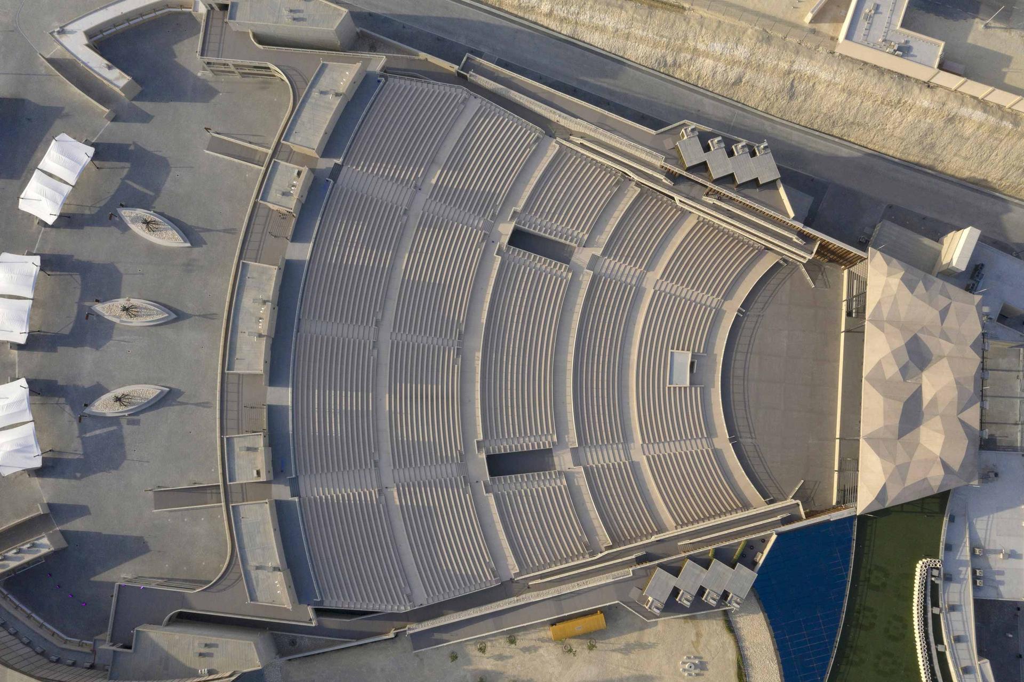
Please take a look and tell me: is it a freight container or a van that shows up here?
freight container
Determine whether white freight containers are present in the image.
No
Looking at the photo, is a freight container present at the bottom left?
No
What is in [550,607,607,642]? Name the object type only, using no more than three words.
shipping container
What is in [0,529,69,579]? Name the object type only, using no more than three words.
building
